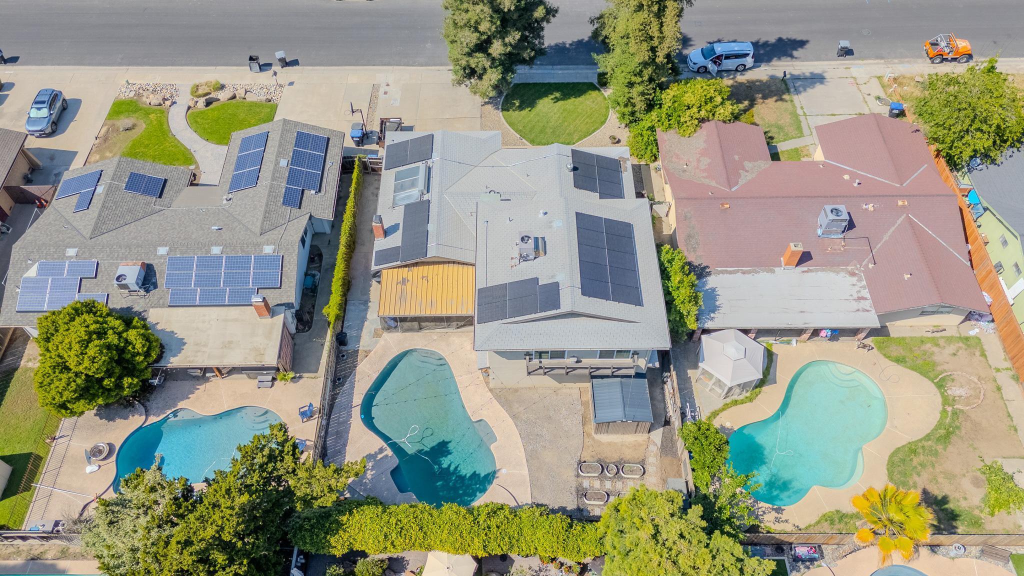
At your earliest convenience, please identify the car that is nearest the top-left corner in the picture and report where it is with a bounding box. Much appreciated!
[20,87,67,138]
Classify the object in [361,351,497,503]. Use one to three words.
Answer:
swimming pool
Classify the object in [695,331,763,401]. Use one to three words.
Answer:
gazebo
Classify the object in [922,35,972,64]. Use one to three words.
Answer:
car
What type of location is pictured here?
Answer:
residential area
